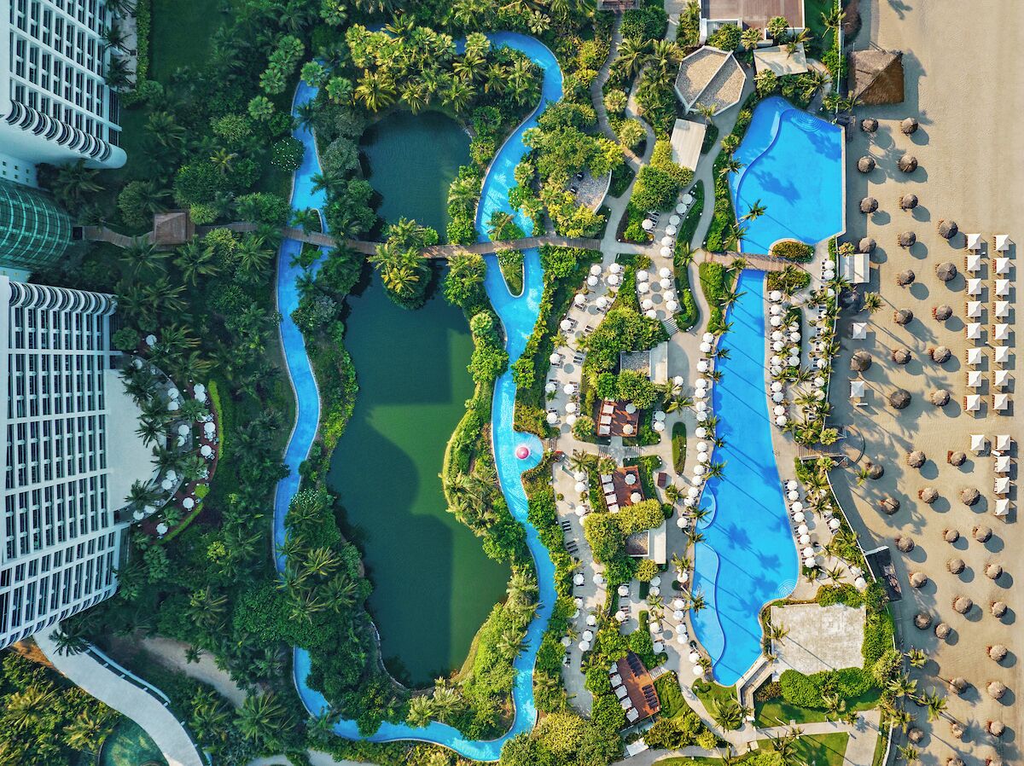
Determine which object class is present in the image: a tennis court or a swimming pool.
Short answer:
swimming pool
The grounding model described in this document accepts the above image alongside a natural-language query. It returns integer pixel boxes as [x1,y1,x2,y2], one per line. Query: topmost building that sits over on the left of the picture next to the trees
[0,0,122,167]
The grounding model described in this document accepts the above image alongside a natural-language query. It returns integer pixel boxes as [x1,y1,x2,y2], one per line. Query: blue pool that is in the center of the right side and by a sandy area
[687,94,845,688]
